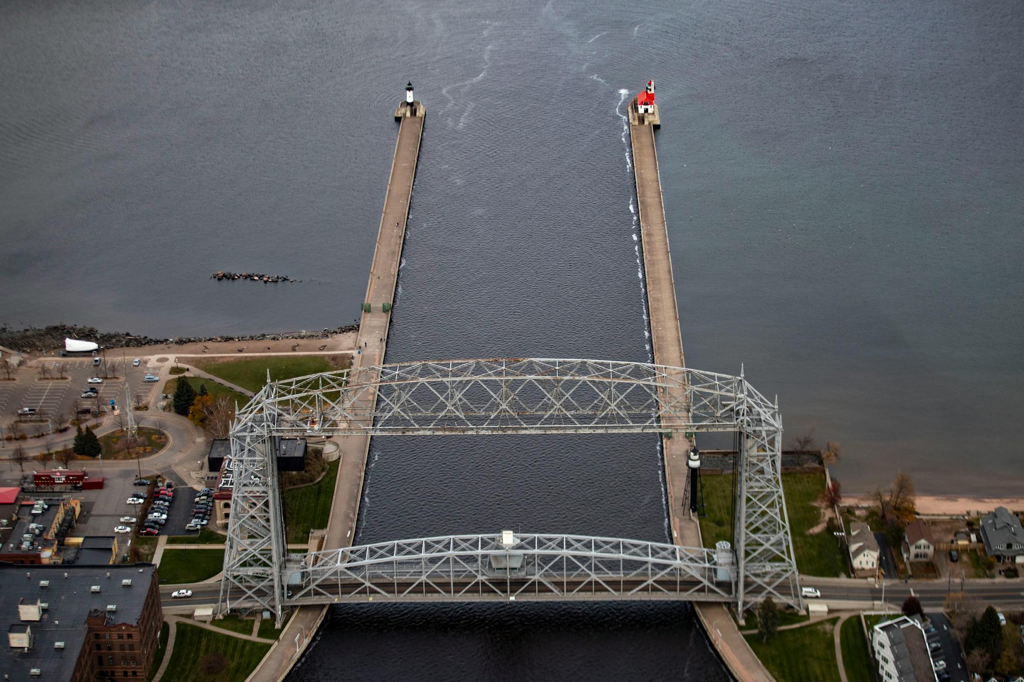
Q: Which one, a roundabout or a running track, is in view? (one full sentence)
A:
Looking from above, you can make out a roundabout.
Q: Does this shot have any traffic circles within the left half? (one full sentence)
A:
Yes, a traffic circle is visible within the left half.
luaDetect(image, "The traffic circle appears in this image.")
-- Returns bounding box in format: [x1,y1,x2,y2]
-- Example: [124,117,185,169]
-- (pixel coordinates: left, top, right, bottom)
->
[82,418,192,469]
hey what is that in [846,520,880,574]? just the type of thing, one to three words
house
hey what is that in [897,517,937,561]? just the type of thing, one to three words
house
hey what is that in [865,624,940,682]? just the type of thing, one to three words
building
